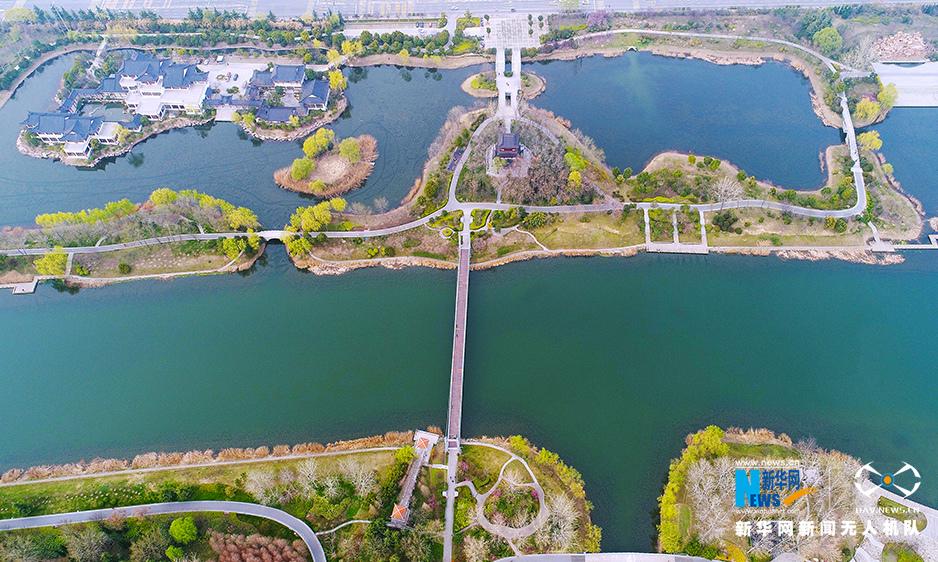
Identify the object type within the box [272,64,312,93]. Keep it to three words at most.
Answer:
building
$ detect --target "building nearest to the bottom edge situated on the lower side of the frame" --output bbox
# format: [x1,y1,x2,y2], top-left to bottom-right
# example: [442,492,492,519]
[388,500,412,526]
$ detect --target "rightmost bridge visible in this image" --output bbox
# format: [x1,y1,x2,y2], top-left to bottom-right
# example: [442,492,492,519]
[840,92,862,166]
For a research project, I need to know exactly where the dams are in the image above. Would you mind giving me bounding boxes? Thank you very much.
[871,60,938,111]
